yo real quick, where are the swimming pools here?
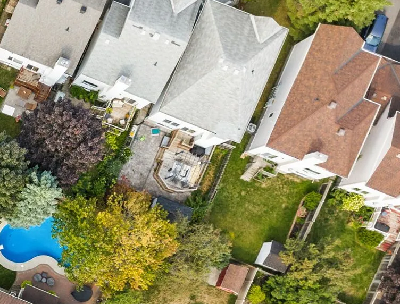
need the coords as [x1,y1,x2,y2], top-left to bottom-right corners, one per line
[0,216,74,265]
